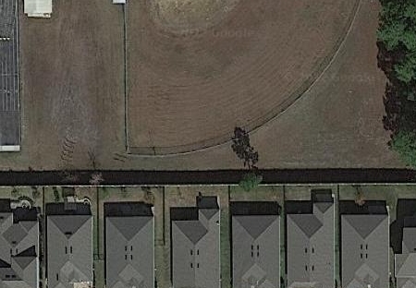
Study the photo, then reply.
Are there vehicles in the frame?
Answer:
No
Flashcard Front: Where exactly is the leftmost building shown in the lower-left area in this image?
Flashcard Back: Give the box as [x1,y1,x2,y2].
[0,213,38,288]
